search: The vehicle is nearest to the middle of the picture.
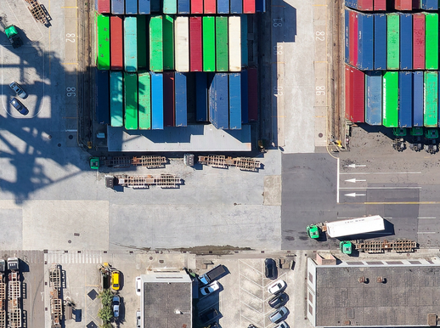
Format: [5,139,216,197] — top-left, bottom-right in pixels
[182,154,253,168]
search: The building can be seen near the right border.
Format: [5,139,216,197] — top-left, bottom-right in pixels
[305,246,440,326]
